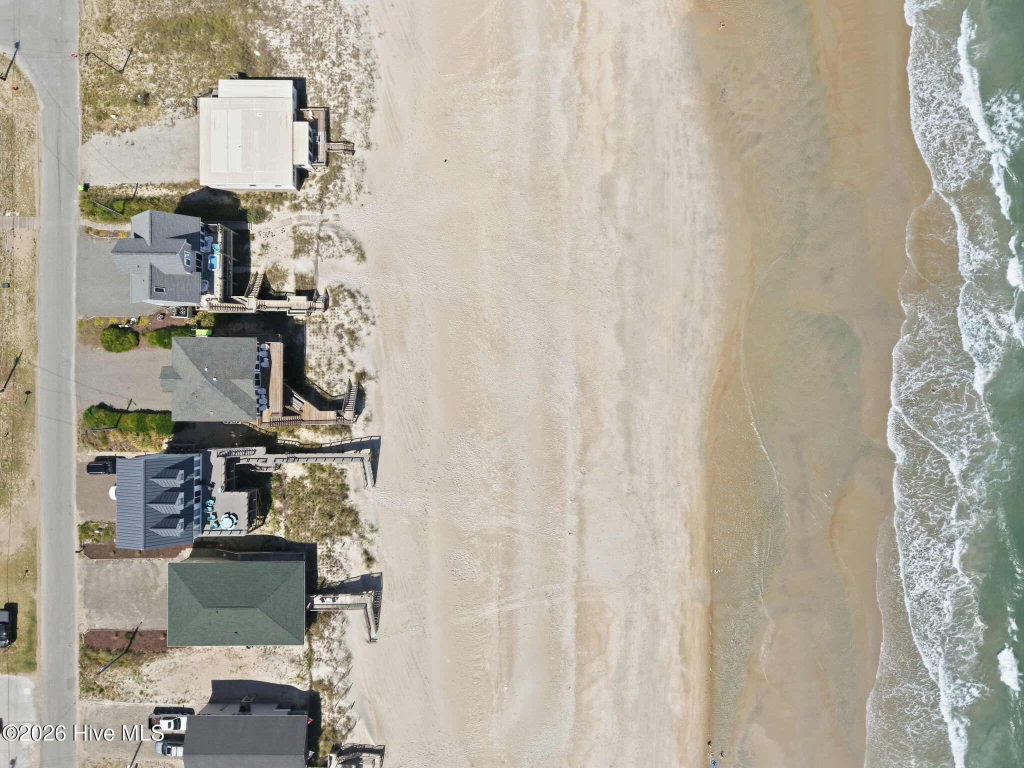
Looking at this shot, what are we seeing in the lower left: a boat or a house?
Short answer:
house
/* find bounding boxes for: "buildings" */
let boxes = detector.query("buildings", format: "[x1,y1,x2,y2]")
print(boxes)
[116,454,202,550]
[200,80,313,192]
[180,696,312,768]
[111,210,220,307]
[167,557,310,646]
[157,336,265,422]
